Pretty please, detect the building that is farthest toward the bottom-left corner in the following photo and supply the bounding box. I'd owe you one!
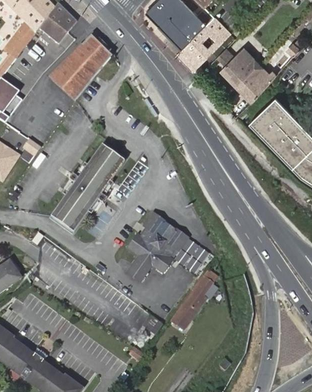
[0,324,84,392]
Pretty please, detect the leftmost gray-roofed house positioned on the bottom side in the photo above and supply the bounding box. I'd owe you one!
[0,253,24,292]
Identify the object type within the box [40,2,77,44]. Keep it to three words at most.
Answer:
house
